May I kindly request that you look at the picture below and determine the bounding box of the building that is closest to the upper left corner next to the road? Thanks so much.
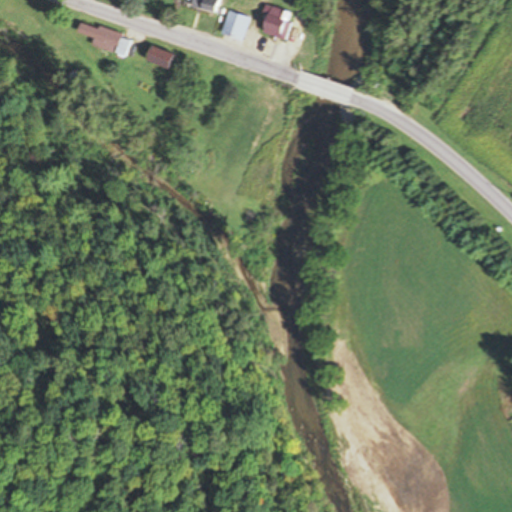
[78,20,122,55]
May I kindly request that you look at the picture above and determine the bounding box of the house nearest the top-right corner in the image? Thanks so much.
[258,4,294,41]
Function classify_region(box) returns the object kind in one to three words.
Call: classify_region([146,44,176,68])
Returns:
house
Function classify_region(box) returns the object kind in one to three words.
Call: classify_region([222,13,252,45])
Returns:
shed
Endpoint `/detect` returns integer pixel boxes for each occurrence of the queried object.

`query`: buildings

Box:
[78,20,122,55]
[146,44,176,68]
[116,36,136,60]
[258,4,294,41]
[191,0,221,16]
[222,13,252,45]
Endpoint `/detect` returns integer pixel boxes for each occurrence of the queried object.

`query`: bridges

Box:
[294,70,358,107]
